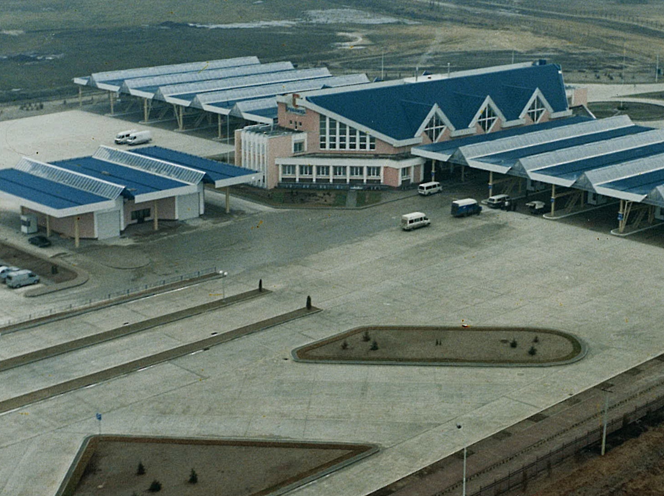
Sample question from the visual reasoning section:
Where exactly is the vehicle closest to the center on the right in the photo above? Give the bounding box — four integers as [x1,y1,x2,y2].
[401,210,432,231]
